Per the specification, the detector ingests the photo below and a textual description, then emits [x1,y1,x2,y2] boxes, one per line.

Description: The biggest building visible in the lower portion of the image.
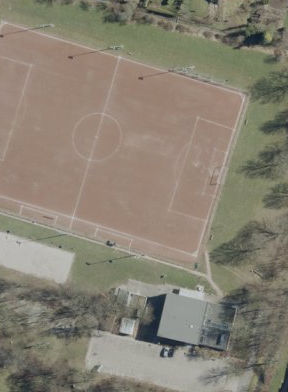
[157,294,209,346]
